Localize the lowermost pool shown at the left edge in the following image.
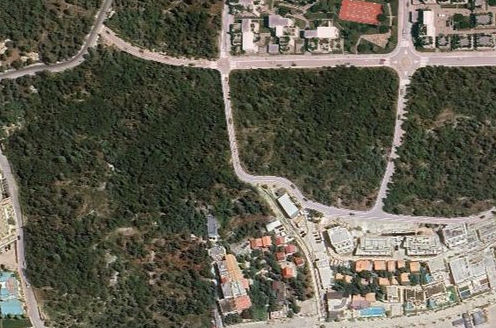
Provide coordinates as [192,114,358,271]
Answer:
[0,298,24,318]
